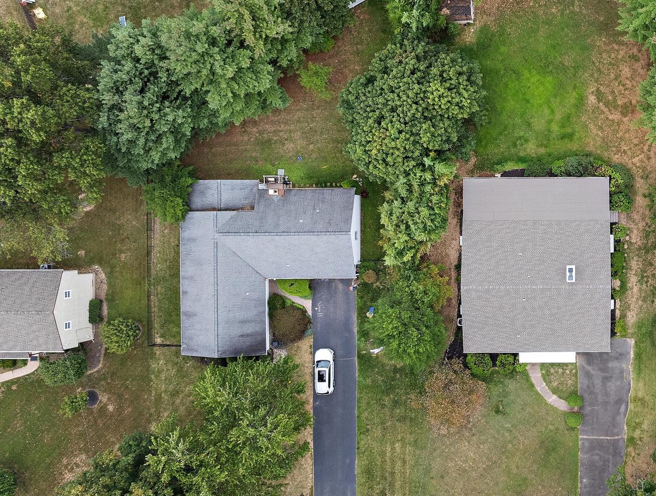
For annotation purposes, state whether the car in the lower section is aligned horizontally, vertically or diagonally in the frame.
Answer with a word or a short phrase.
vertically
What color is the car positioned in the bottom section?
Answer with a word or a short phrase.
white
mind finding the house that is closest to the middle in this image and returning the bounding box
[179,179,360,358]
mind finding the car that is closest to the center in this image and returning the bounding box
[312,348,335,394]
